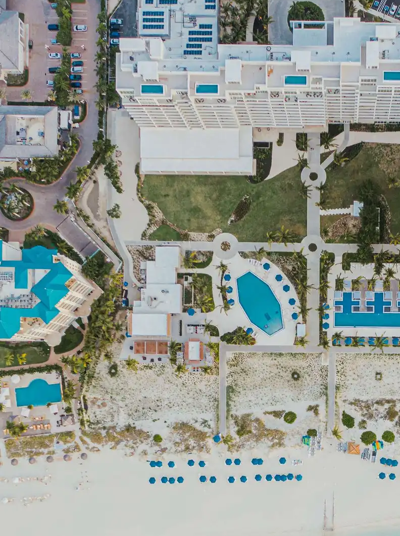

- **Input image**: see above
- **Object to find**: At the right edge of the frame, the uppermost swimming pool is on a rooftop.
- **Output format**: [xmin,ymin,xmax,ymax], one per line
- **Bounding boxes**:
[381,70,400,83]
